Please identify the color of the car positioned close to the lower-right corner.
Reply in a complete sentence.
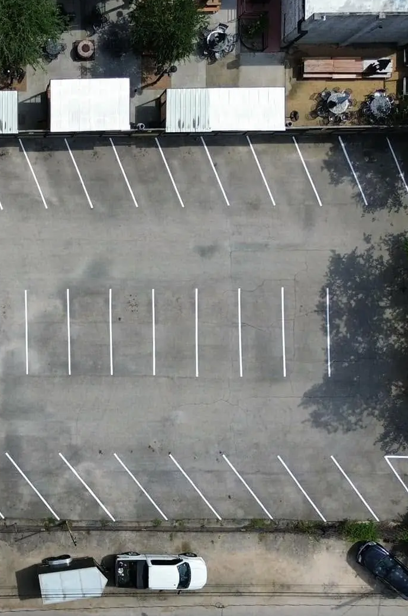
The color of the car positioned close to the lower-right corner is black.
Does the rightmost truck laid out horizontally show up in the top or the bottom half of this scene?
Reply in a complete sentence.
Seen from above, the rightmost truck laid out horizontally lies in the bottom half of the view.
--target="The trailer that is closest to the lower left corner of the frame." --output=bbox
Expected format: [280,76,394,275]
[37,554,114,603]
